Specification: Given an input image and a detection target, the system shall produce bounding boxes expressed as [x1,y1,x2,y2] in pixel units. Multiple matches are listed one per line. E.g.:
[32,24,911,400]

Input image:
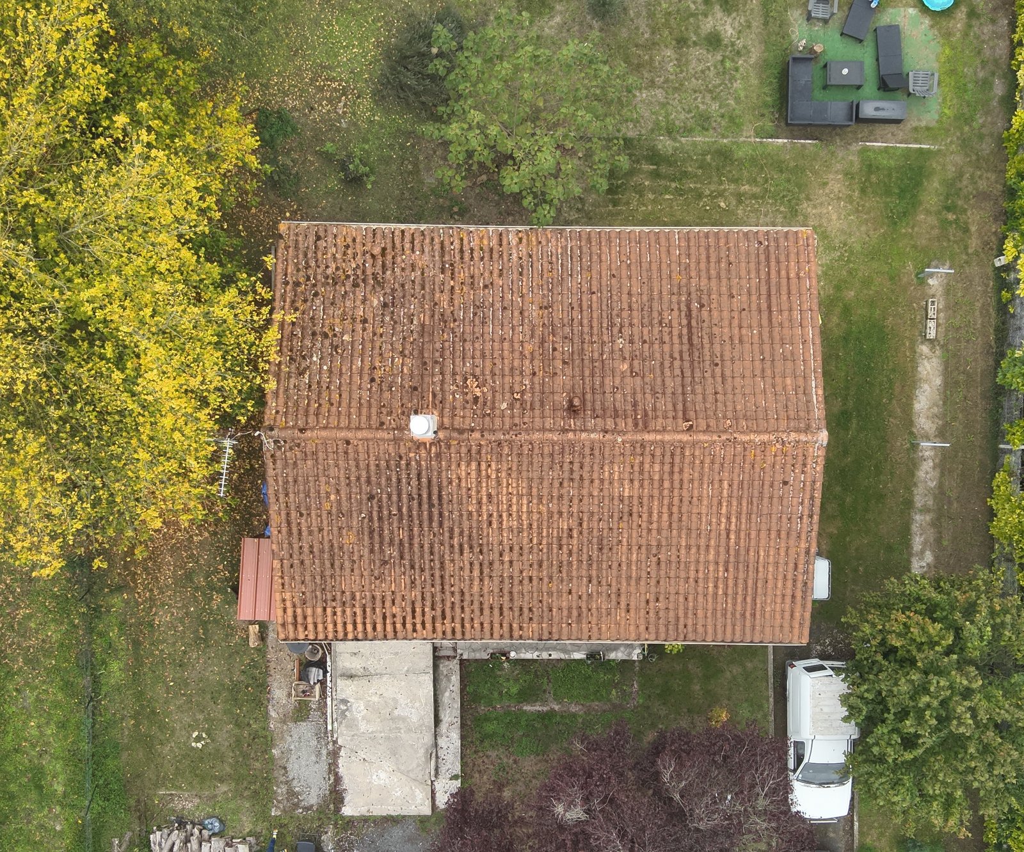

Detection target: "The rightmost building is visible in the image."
[264,221,832,648]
